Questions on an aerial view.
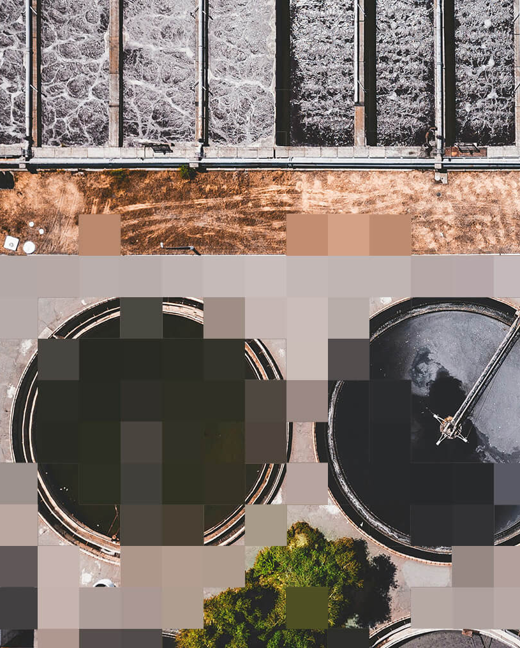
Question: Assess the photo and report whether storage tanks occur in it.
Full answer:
Yes, there is a storage tank in the image.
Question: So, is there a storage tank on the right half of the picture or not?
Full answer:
Yes, a storage tank can be seen on the right half of the picture.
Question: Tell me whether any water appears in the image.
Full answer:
Yes, water shows up in the scene.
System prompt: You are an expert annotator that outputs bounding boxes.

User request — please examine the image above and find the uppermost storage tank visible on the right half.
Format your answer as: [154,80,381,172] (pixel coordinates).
[314,291,520,568]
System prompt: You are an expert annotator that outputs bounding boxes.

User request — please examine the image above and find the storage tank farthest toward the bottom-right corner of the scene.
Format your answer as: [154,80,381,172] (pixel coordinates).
[354,606,520,648]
